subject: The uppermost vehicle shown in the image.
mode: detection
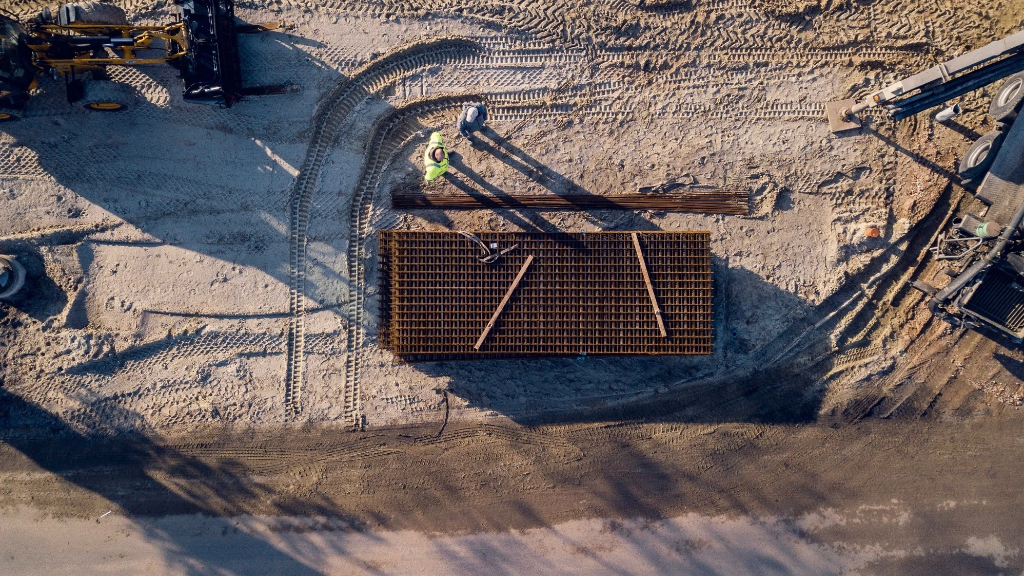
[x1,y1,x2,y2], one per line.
[0,2,185,122]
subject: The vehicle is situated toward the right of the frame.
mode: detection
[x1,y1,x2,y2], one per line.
[826,27,1024,349]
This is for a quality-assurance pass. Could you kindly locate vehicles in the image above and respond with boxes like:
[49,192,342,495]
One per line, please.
[826,27,1024,349]
[0,2,185,122]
